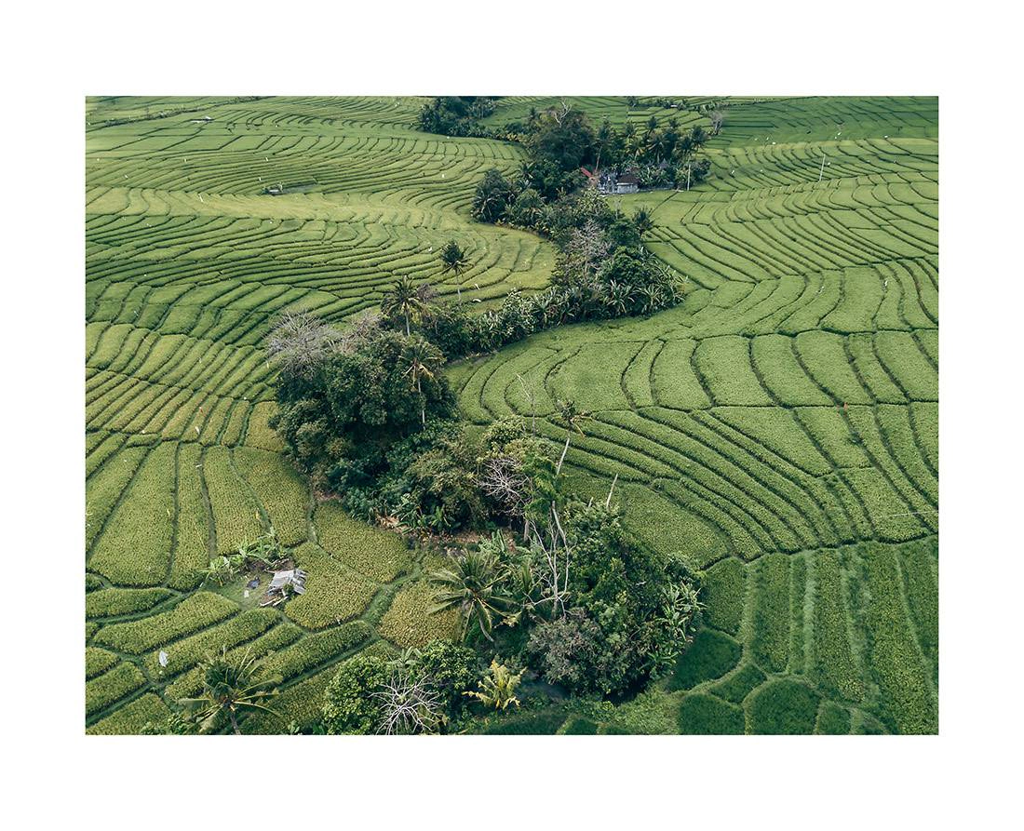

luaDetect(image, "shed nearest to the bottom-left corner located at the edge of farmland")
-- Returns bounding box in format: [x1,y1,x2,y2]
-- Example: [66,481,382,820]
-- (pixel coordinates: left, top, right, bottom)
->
[267,570,306,602]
